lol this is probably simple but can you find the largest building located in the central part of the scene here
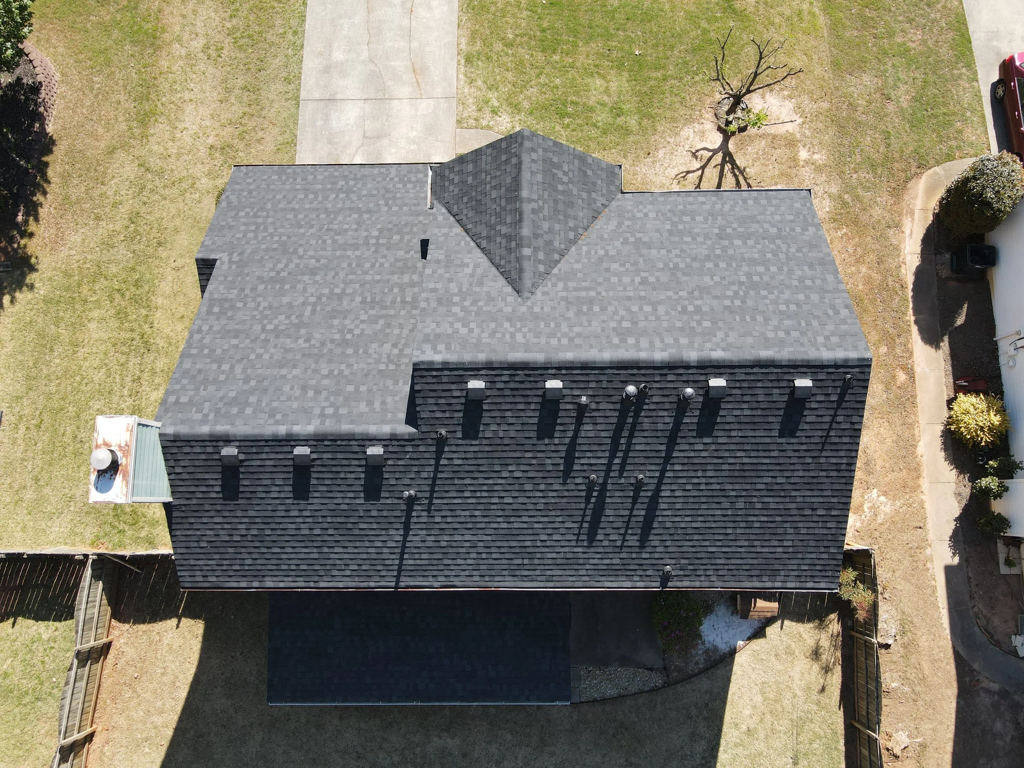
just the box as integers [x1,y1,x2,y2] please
[85,128,874,711]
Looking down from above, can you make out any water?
No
